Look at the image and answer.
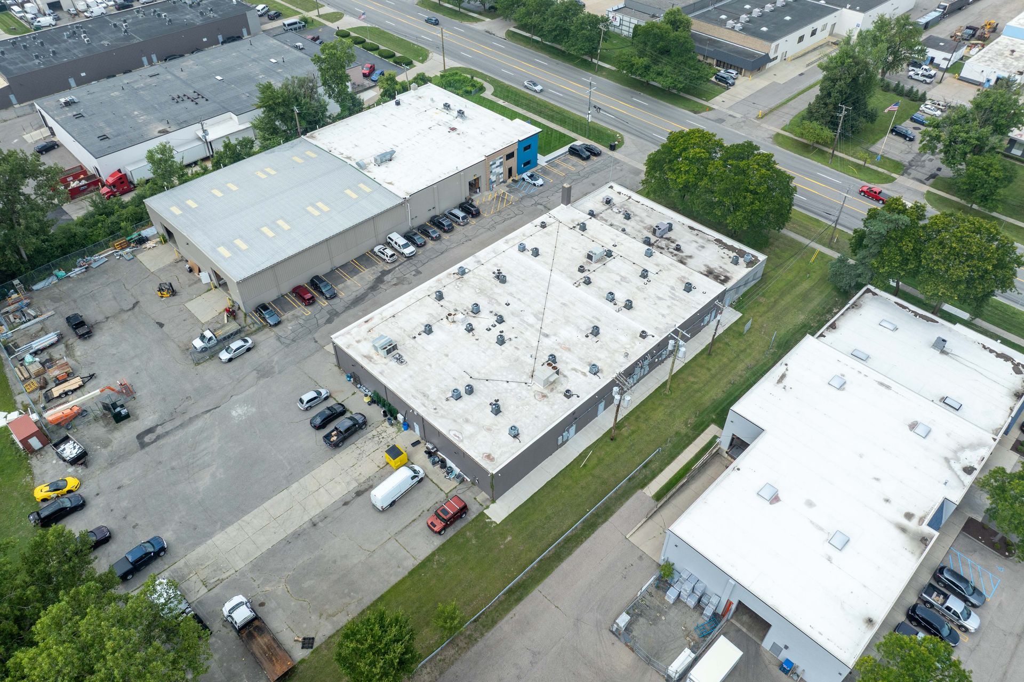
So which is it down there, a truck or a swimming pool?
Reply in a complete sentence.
The image shows a truck.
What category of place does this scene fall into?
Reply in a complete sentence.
The picture captures an industrial area.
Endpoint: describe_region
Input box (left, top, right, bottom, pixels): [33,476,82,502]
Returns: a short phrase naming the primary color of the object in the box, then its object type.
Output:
yellow car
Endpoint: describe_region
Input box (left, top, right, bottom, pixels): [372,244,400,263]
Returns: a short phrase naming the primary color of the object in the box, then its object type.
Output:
white car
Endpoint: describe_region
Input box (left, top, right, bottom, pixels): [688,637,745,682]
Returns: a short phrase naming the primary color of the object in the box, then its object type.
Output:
white vehicle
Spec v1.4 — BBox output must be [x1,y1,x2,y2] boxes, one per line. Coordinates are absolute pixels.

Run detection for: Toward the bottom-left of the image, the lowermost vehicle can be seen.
[231,606,295,682]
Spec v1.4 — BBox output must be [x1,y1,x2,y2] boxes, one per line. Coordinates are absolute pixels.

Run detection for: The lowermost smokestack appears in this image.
[556,182,576,211]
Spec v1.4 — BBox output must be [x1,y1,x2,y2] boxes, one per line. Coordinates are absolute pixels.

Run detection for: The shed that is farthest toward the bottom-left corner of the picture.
[5,412,47,452]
